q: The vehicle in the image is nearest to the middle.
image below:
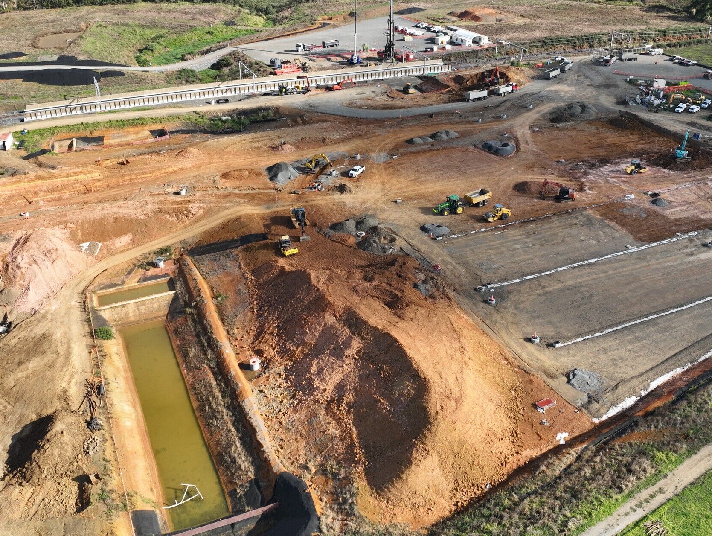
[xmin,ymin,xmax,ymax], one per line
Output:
[294,208,311,234]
